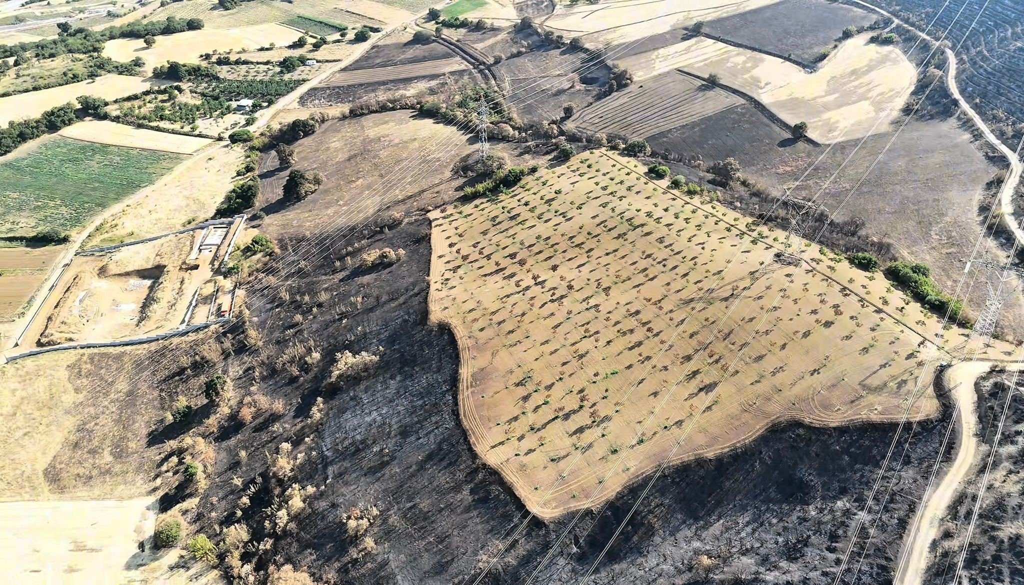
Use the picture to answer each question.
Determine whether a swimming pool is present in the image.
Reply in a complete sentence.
No, there appears to be no swimming pool in this shot.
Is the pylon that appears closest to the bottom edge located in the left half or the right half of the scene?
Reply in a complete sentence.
The pylon that appears closest to the bottom edge sits on the right side.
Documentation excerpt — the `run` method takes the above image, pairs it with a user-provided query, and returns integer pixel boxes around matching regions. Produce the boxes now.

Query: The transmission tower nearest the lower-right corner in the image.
[957,254,1024,360]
